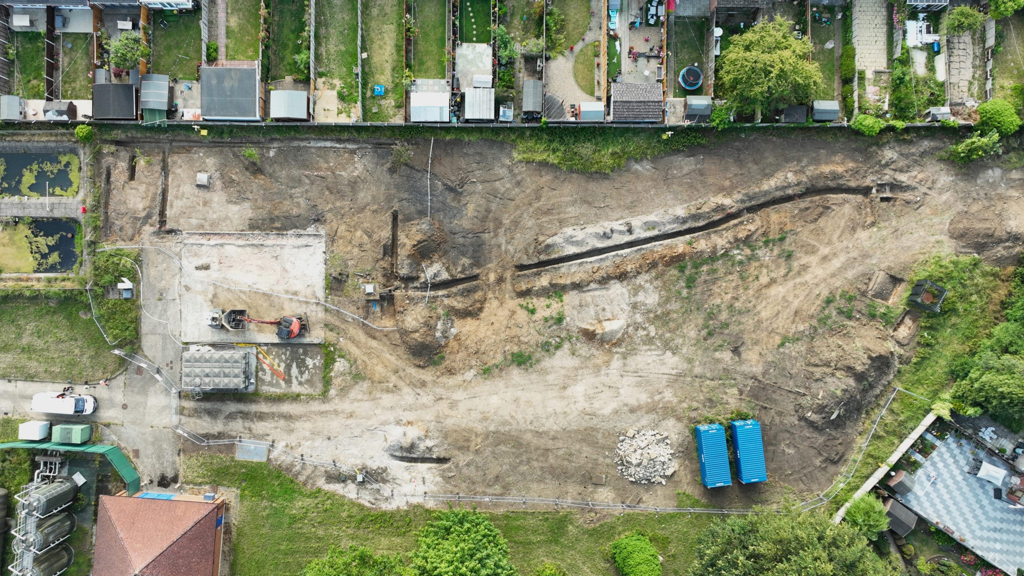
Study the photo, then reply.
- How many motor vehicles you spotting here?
3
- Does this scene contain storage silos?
Yes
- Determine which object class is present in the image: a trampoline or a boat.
trampoline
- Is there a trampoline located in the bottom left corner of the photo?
No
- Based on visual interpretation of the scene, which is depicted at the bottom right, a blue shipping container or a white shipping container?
blue shipping container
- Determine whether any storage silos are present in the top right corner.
No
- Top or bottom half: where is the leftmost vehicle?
bottom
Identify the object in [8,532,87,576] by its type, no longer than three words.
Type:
silo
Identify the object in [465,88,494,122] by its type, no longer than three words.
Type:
shed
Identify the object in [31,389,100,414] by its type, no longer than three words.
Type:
vehicle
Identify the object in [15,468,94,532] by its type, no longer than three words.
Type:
silo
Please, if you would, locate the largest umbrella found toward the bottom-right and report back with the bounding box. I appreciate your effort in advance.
[977,461,1007,486]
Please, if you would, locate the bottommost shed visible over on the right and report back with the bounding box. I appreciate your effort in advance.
[886,497,920,534]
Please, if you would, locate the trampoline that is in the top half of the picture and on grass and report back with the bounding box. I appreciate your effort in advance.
[679,62,707,91]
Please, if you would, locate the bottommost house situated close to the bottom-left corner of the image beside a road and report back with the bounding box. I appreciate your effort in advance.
[91,489,228,576]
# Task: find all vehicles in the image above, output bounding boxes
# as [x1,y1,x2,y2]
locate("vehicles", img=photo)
[233,314,307,335]
[203,310,244,331]
[31,389,100,414]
